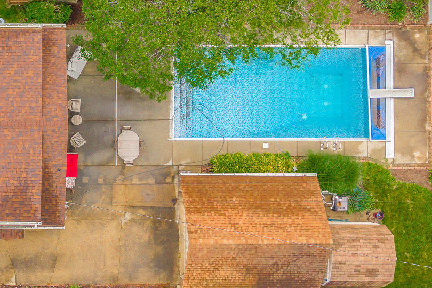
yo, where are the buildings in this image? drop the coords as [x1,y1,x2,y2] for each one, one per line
[169,173,331,288]
[0,21,70,239]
